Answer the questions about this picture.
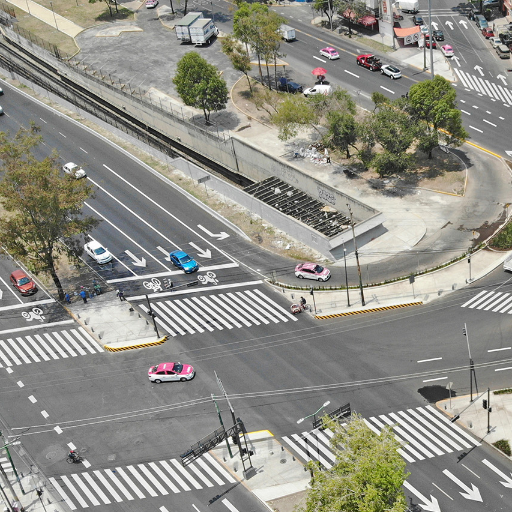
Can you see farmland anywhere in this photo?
No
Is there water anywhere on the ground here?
No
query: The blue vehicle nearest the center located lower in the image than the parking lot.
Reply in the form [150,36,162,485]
[168,250,200,275]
